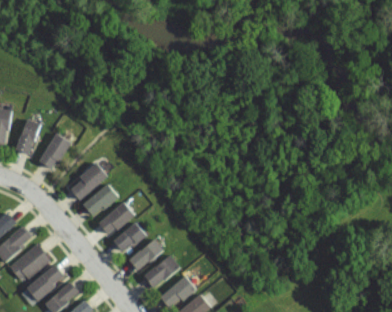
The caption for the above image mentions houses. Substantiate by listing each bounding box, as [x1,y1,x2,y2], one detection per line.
[0,212,18,240]
[42,134,72,172]
[0,108,14,148]
[0,226,36,263]
[114,223,148,253]
[16,244,53,280]
[99,204,136,236]
[26,266,68,301]
[72,300,97,312]
[162,277,196,308]
[83,184,120,218]
[18,118,44,158]
[128,239,166,273]
[144,256,181,288]
[72,164,108,204]
[46,282,84,312]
